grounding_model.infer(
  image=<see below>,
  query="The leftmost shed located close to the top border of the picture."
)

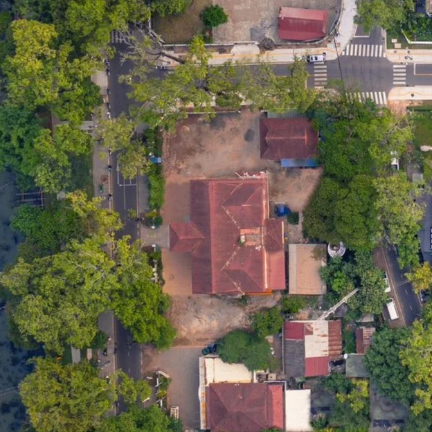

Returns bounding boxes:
[279,6,328,41]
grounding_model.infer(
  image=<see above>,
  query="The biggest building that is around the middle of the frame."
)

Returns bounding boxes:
[169,174,286,297]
